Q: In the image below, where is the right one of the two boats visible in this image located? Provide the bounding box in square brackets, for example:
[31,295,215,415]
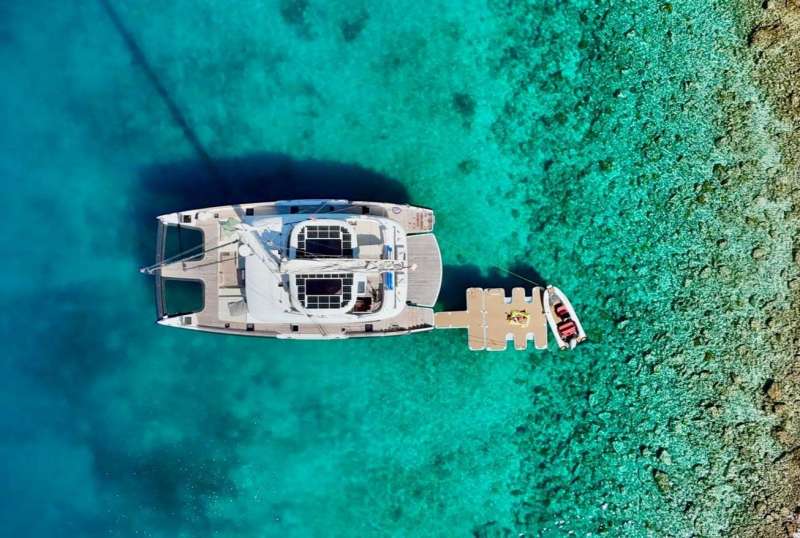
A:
[542,286,587,352]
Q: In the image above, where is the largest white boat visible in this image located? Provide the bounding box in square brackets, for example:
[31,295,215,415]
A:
[140,199,441,339]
